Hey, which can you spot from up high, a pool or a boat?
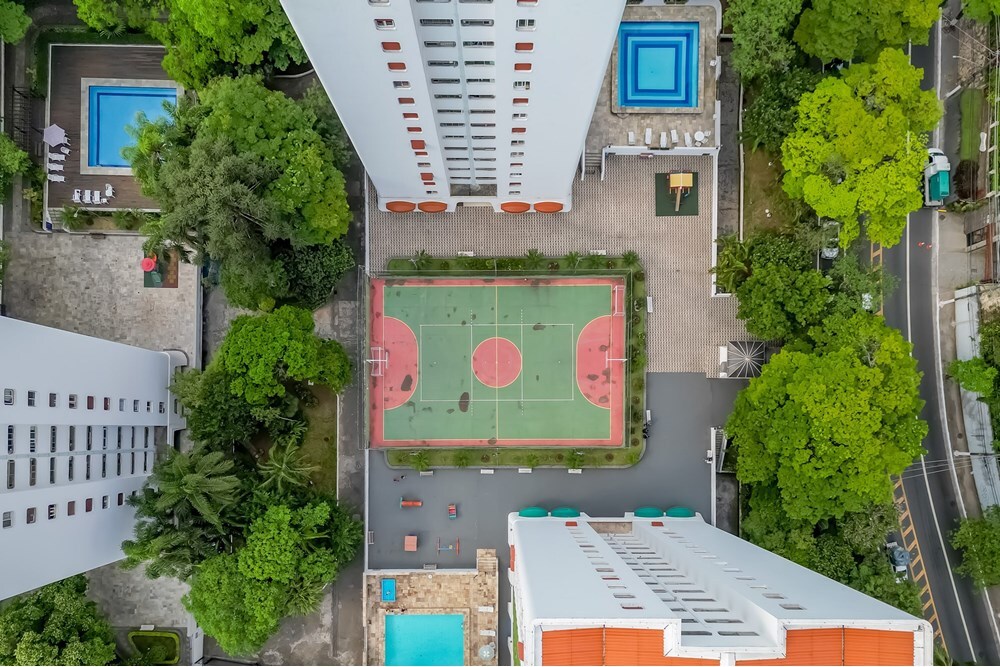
pool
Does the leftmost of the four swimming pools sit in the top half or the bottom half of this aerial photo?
top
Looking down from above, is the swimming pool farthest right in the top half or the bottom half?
top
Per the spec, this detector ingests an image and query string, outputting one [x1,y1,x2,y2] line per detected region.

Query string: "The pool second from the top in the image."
[80,78,184,176]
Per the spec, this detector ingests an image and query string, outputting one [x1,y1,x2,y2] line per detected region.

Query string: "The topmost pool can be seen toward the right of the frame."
[611,21,705,113]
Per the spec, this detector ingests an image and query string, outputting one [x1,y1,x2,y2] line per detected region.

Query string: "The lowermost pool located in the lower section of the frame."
[379,608,470,667]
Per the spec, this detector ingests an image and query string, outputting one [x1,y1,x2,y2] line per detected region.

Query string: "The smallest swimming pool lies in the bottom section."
[381,578,396,601]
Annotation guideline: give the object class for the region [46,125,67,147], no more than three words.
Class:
umbrella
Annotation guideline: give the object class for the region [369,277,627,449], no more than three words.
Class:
sports court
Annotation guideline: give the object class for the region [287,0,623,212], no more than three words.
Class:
building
